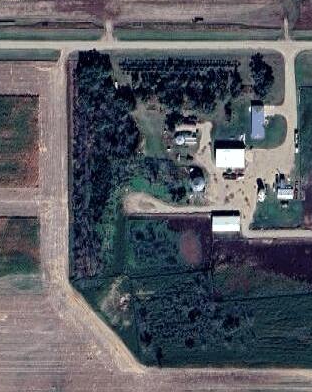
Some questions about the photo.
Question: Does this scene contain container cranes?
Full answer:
No, the photo shows no container crane.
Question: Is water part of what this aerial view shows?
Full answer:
No, there is no water in the image.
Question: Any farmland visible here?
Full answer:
Yes, the picture does contain farmland.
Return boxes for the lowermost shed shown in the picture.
[212,216,241,232]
